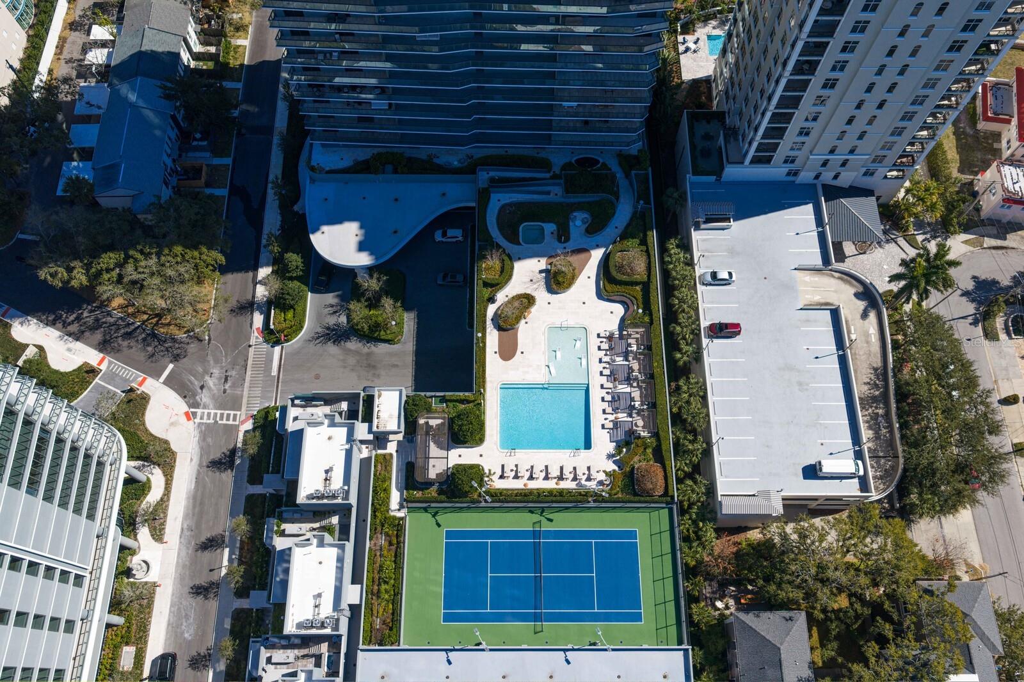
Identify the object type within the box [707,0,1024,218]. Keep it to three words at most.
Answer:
building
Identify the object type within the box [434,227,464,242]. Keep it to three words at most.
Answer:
car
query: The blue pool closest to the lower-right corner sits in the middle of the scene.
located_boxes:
[498,324,593,451]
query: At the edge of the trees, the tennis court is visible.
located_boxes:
[402,506,685,647]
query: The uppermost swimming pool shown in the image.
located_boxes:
[705,31,731,56]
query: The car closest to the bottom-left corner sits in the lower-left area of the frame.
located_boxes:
[153,648,177,682]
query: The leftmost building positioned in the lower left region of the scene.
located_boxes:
[0,355,151,682]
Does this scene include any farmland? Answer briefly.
No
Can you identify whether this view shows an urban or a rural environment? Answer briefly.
urban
